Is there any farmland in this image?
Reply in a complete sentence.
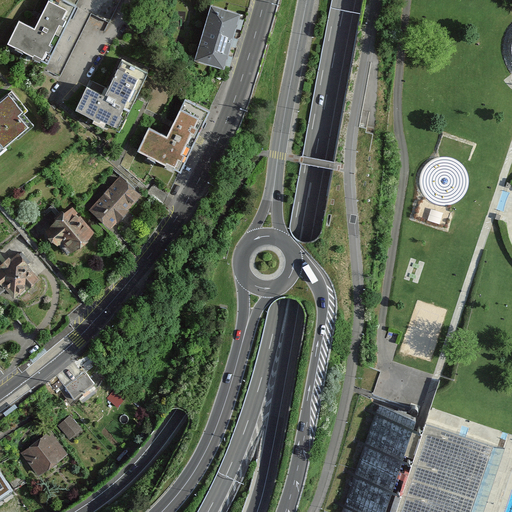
No, there's no farmland in this view.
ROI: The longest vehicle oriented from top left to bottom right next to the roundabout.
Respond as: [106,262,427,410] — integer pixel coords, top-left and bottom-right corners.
[303,263,318,284]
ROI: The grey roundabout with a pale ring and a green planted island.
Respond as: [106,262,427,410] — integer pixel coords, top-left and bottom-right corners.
[232,227,303,298]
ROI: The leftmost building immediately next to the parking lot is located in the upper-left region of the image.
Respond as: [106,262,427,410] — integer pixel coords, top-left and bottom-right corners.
[0,91,36,154]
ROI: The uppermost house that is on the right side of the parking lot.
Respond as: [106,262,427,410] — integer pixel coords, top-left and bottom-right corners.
[196,6,244,69]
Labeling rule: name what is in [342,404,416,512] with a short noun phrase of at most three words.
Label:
building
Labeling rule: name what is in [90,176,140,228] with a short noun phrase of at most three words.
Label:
house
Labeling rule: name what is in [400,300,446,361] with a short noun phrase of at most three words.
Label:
sports court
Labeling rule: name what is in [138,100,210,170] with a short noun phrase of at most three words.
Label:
building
